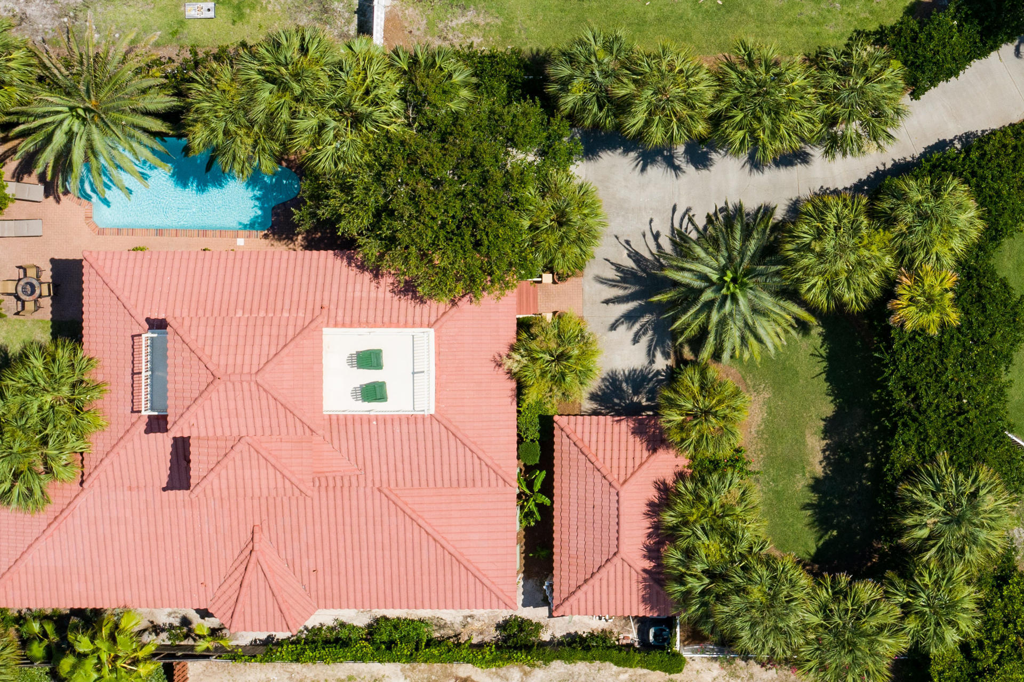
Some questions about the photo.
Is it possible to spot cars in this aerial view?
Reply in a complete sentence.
No, I can't see a single car in this photo.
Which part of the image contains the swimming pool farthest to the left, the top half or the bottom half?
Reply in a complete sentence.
Seen from above, the swimming pool farthest to the left lies in the top half of the view.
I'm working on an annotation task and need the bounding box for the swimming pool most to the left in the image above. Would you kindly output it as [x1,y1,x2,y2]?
[59,129,307,238]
